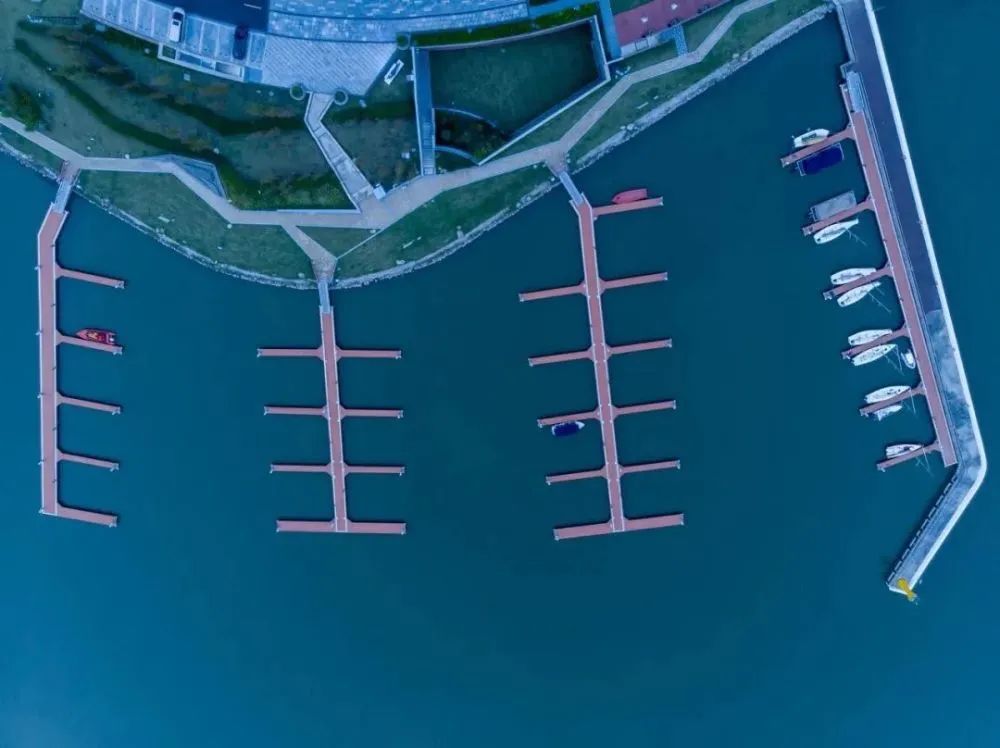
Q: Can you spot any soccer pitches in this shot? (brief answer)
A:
No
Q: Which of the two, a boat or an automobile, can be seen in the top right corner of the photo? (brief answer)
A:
boat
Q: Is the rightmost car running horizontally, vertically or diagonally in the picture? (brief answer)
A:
vertically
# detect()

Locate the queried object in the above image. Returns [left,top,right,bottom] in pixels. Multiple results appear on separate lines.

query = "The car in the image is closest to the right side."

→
[230,24,250,62]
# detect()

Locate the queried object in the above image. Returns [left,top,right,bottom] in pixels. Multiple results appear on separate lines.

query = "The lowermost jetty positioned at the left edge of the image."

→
[34,203,126,529]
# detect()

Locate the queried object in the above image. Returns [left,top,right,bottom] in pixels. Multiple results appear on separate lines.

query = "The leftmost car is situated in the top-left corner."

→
[162,6,186,44]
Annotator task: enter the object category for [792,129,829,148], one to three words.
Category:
boat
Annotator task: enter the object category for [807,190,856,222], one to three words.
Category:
boat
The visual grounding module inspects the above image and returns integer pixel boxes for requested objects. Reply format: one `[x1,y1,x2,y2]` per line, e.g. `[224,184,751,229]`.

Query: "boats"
[807,190,856,222]
[611,187,647,203]
[812,221,862,246]
[75,329,118,345]
[793,143,845,177]
[847,329,897,353]
[885,443,931,471]
[899,346,915,368]
[829,266,881,288]
[864,386,915,413]
[836,283,889,309]
[550,422,585,434]
[852,345,903,373]
[792,129,829,148]
[874,405,910,426]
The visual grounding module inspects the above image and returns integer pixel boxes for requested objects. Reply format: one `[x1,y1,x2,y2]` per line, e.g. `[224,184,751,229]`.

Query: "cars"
[230,24,250,62]
[162,6,186,44]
